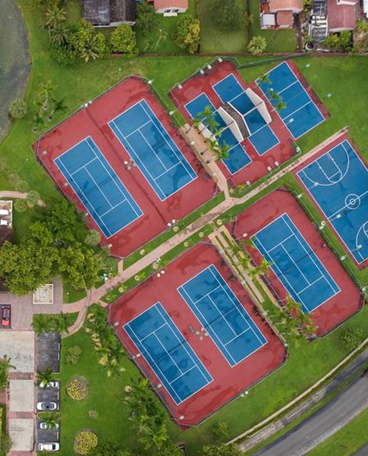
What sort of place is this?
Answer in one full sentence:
The picture captures a sports ground.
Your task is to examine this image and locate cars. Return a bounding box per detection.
[39,423,58,430]
[39,380,57,387]
[37,403,57,410]
[1,306,9,325]
[39,443,58,451]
